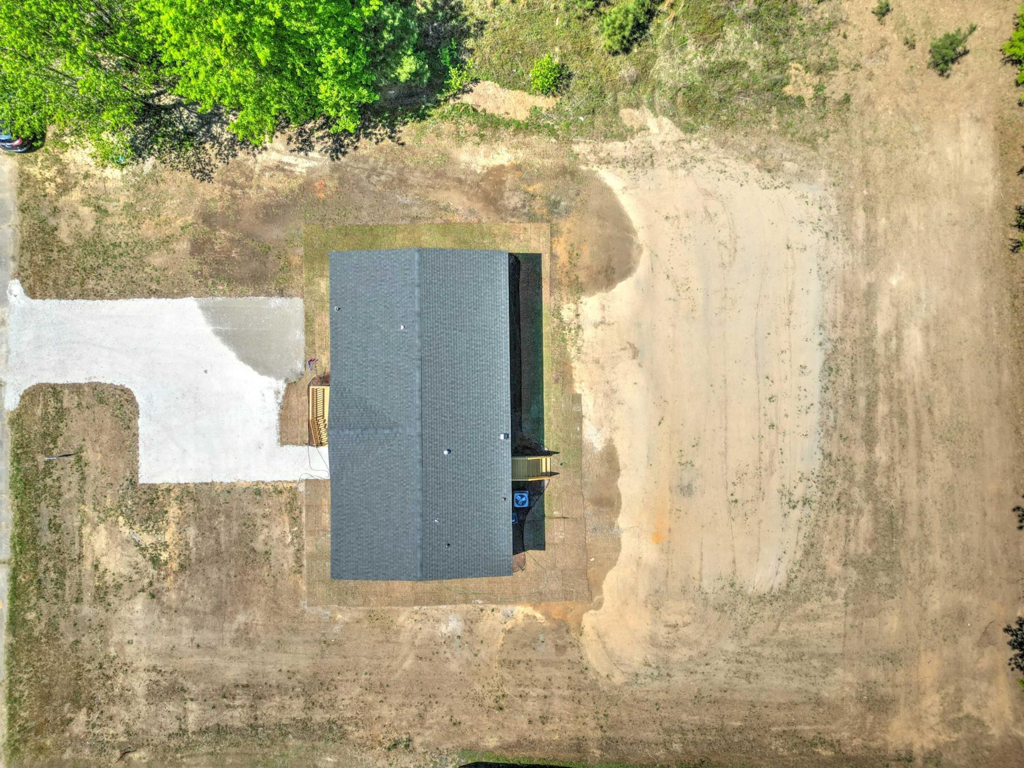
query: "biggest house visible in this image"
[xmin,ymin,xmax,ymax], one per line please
[326,248,512,583]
